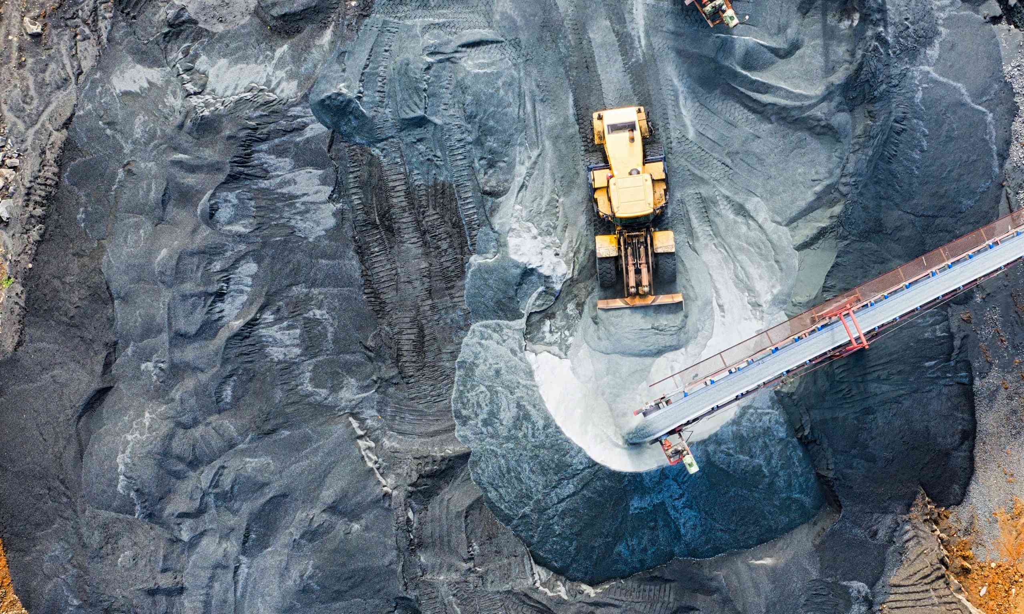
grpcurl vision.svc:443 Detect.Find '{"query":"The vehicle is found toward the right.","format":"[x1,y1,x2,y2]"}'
[580,108,683,323]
